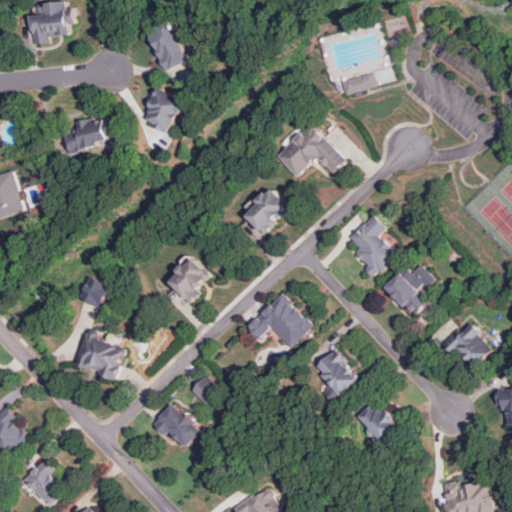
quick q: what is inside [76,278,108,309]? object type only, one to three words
building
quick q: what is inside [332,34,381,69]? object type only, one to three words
swimming pool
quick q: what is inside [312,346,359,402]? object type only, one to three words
house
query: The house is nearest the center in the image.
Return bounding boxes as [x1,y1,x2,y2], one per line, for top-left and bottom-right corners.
[242,189,282,236]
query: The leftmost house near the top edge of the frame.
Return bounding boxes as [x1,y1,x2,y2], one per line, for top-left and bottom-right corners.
[26,0,73,47]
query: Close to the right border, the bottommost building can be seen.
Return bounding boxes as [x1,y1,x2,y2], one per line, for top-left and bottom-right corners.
[441,478,496,512]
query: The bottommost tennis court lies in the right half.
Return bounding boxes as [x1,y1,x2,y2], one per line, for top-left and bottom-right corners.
[481,198,512,242]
